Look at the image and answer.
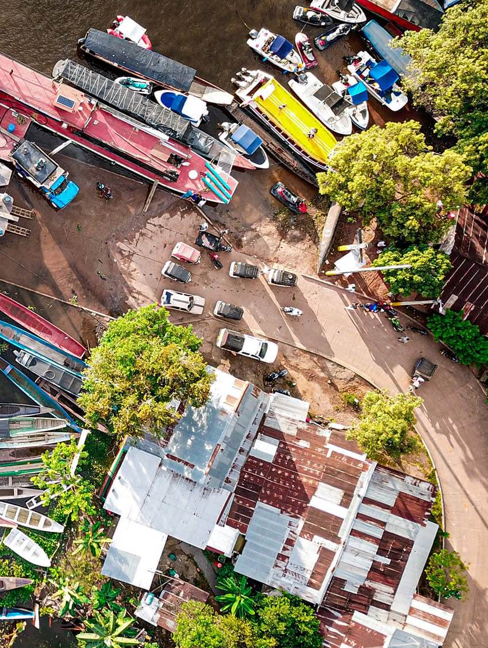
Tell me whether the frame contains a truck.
Yes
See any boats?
Yes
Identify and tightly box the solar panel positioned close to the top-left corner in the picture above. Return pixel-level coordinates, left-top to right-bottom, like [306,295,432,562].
[54,91,78,111]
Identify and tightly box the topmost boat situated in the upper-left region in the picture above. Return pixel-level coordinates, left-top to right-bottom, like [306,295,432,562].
[109,10,152,43]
